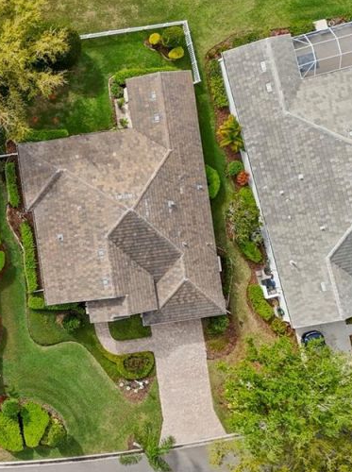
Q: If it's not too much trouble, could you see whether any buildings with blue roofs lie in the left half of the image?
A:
No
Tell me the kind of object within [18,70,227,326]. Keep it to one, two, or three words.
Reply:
house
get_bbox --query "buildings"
[214,35,352,329]
[18,70,227,326]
